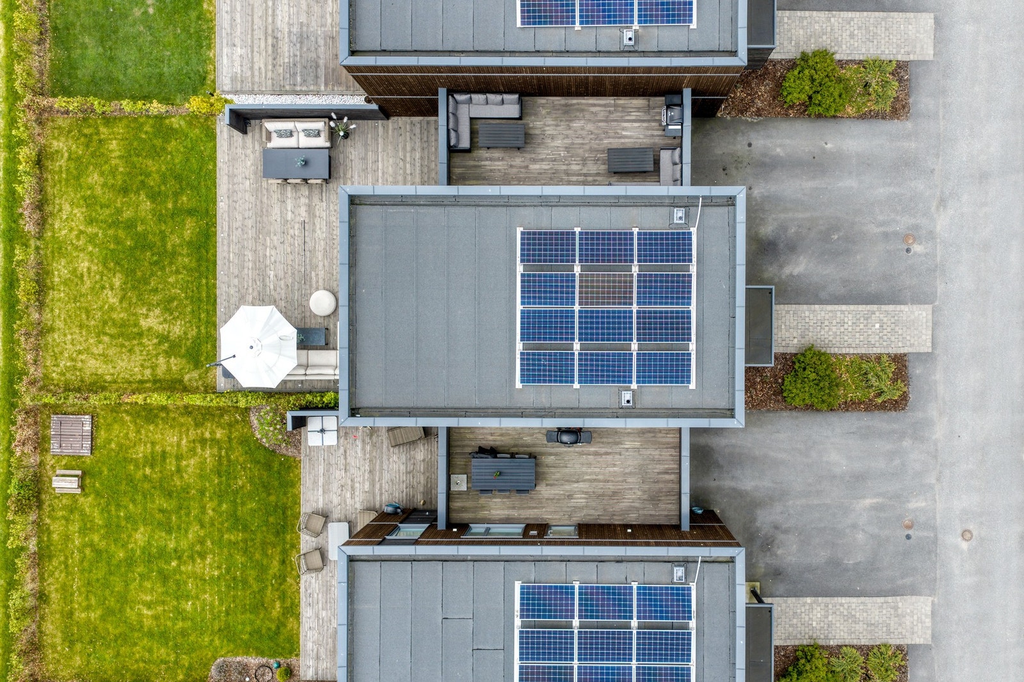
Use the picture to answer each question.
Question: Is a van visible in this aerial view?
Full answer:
No, no van is visible in the view.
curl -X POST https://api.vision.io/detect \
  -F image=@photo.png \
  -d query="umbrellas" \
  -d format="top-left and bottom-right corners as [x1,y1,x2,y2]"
[207,305,297,388]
